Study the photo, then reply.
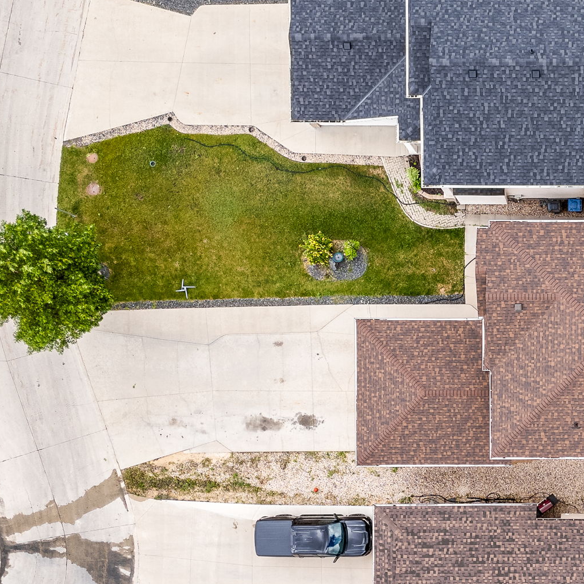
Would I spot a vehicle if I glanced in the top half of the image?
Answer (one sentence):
No, I see no vehicle in the top half of the image.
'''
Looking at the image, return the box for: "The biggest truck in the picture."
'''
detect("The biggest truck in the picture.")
[255,513,372,563]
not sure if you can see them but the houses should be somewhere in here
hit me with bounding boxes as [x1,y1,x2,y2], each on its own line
[281,0,584,209]
[355,218,584,467]
[372,504,584,584]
